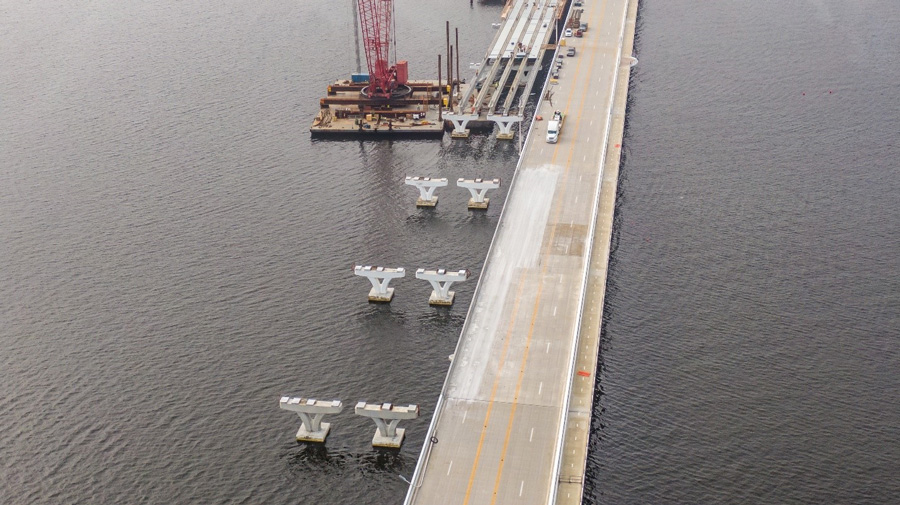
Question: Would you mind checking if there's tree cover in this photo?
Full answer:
No, there is no tree cover in the image.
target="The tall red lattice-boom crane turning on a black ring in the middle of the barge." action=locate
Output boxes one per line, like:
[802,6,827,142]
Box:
[357,0,414,112]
